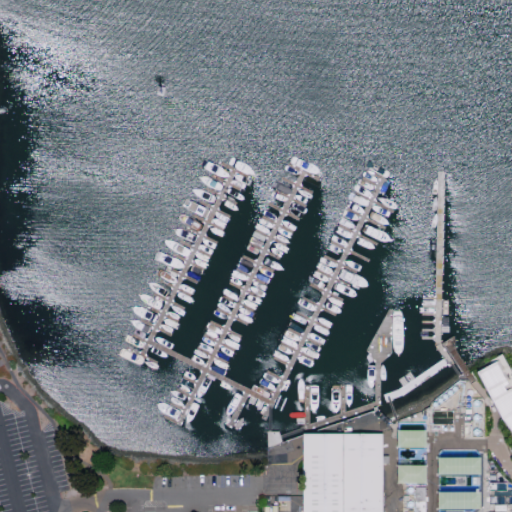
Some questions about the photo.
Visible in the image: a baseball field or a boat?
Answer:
boat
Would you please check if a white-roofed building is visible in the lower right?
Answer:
Yes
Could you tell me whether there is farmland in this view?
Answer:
No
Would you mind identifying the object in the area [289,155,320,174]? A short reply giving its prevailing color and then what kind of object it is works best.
white boat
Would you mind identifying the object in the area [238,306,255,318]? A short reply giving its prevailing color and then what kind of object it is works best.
white boat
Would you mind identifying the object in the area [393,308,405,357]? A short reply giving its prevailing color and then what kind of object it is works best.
white ship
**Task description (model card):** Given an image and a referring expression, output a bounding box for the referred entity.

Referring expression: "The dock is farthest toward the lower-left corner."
[158,371,203,423]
